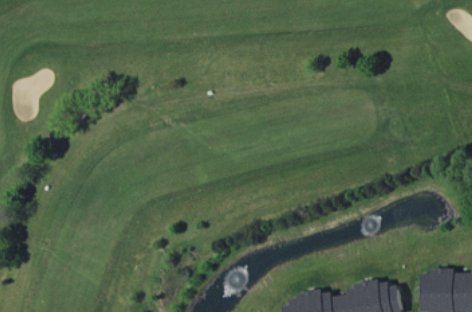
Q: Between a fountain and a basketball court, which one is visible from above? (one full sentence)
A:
It is a fountain that can be seen here.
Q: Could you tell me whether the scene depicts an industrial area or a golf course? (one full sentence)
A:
This image shows a golf course.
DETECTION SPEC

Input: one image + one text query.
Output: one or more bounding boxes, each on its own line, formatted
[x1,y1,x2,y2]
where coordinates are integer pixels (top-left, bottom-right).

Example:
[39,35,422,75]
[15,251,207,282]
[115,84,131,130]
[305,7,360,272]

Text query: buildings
[420,268,472,312]
[282,278,404,312]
